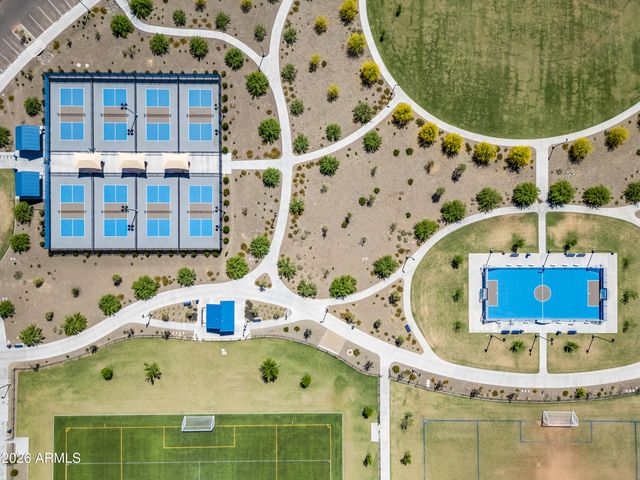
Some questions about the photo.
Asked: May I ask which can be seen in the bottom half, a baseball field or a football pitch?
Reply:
football pitch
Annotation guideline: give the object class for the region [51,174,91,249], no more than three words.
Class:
sports court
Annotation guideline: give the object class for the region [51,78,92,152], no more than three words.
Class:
sports court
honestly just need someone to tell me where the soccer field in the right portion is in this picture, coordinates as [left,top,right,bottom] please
[423,420,640,480]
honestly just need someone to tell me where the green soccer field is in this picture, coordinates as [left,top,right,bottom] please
[53,412,344,480]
